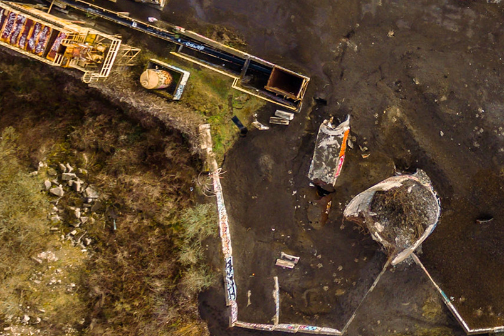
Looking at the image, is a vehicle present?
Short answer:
No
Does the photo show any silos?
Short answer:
Yes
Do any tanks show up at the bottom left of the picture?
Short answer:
No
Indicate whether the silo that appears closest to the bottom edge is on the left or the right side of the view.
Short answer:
right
